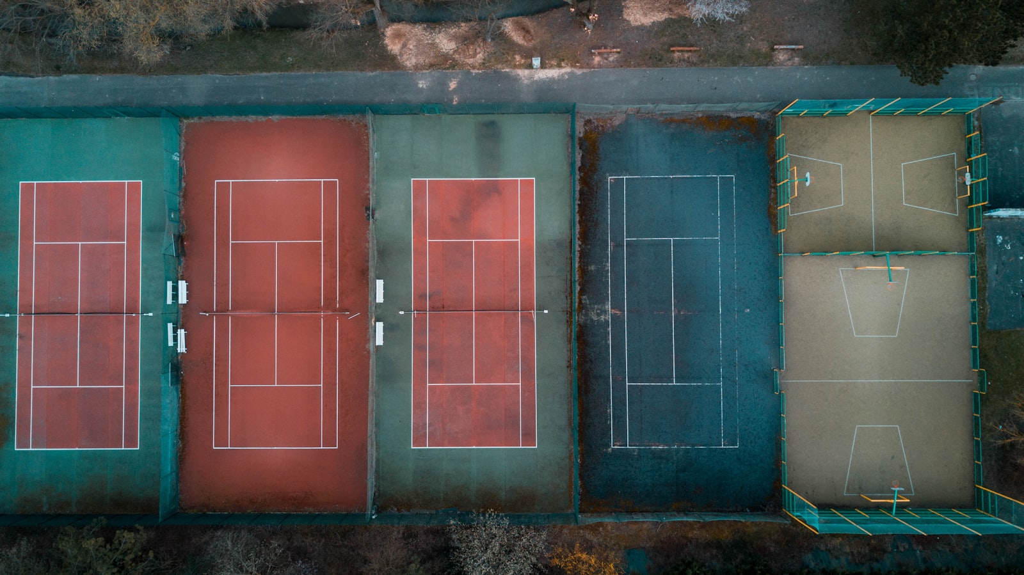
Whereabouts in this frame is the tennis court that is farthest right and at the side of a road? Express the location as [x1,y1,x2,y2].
[578,111,783,513]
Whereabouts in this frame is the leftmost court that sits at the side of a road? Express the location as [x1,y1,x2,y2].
[0,117,179,514]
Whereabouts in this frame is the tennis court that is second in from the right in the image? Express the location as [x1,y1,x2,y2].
[375,115,573,514]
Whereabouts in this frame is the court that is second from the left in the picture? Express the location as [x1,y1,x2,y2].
[179,115,373,514]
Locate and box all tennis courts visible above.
[0,117,179,514]
[179,115,373,514]
[375,115,573,514]
[578,111,783,513]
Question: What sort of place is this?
sports ground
